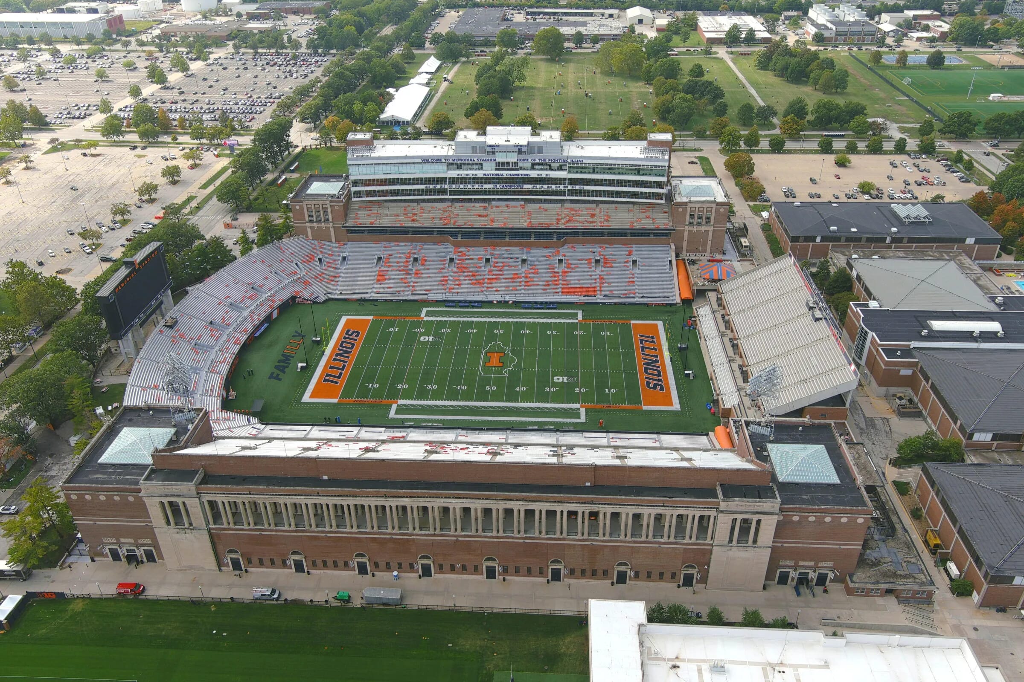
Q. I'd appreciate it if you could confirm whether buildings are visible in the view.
Yes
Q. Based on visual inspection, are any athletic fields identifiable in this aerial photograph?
Yes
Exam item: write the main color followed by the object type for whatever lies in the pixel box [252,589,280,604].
gray vehicle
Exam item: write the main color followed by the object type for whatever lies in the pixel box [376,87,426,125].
white tent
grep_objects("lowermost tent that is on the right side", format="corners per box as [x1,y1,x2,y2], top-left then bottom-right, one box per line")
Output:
[700,262,736,281]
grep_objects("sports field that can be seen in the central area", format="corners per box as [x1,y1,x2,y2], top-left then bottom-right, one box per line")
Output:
[224,300,722,431]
